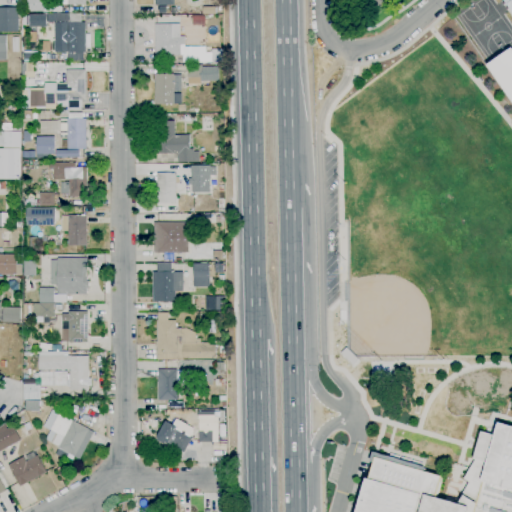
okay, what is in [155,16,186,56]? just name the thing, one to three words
house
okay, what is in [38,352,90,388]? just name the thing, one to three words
house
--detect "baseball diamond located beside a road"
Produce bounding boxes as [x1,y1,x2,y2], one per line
[332,40,512,358]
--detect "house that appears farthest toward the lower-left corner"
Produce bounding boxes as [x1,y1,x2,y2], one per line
[8,450,46,487]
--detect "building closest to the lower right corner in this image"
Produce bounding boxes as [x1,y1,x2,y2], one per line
[459,420,512,512]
